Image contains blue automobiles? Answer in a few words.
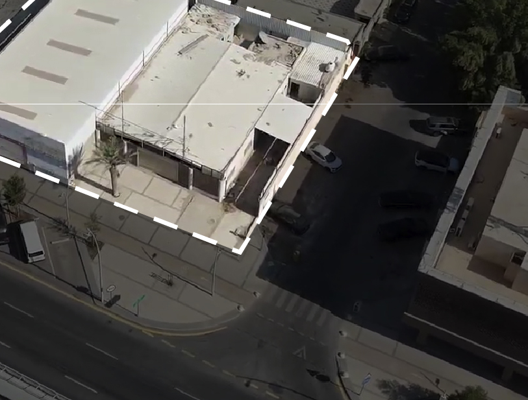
No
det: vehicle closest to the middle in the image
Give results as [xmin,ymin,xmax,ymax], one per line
[266,199,312,237]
